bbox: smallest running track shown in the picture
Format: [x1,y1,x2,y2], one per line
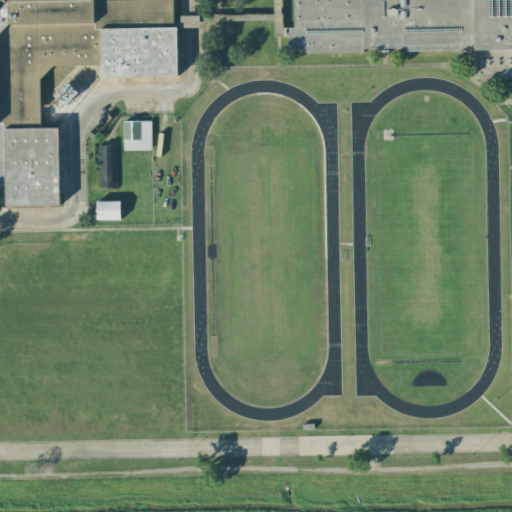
[352,77,502,418]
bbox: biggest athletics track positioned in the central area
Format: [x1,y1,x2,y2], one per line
[191,80,343,421]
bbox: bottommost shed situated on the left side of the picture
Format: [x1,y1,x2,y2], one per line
[96,202,121,220]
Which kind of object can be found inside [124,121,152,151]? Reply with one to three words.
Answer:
shed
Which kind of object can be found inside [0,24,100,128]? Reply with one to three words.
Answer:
building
